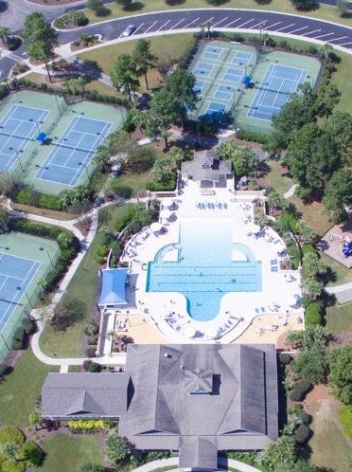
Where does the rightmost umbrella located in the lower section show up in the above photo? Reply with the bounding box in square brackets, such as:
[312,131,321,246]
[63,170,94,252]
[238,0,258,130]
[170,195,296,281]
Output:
[283,289,299,302]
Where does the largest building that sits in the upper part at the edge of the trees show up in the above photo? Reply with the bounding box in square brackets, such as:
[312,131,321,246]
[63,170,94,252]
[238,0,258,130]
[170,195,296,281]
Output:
[178,141,232,179]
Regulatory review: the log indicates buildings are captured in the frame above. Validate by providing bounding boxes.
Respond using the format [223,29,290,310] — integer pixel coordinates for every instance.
[178,141,232,179]
[39,341,279,472]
